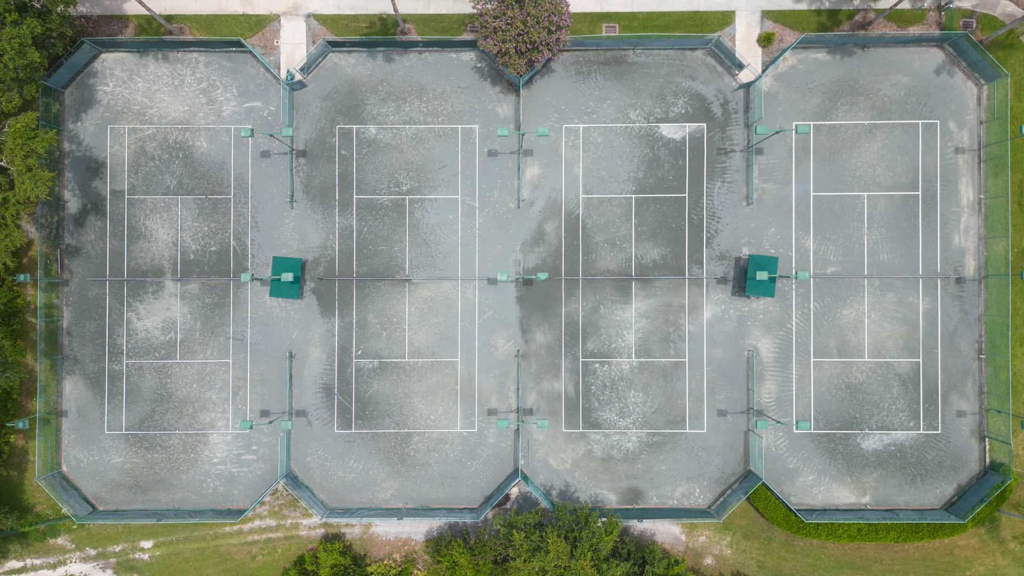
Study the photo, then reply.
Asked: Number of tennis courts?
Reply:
4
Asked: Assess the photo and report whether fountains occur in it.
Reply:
No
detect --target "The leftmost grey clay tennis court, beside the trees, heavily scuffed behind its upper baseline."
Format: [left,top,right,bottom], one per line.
[62,51,294,510]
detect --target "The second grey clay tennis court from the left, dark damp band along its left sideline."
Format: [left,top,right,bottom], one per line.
[292,51,520,508]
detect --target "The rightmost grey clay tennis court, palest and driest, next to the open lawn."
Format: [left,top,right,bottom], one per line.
[748,46,985,510]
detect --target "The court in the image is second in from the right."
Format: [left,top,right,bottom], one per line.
[519,49,749,511]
